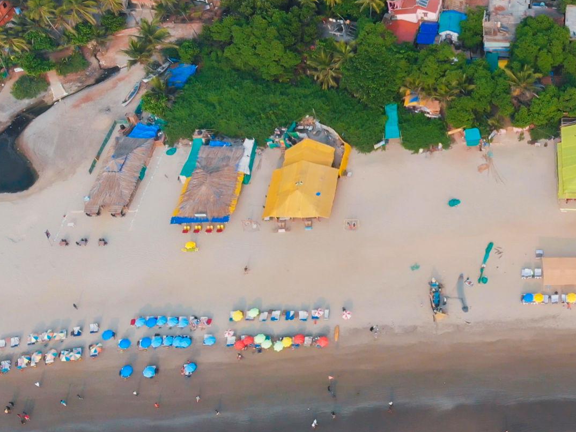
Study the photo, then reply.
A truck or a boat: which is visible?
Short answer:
boat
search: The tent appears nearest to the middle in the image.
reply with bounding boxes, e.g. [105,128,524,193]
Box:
[263,138,341,224]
